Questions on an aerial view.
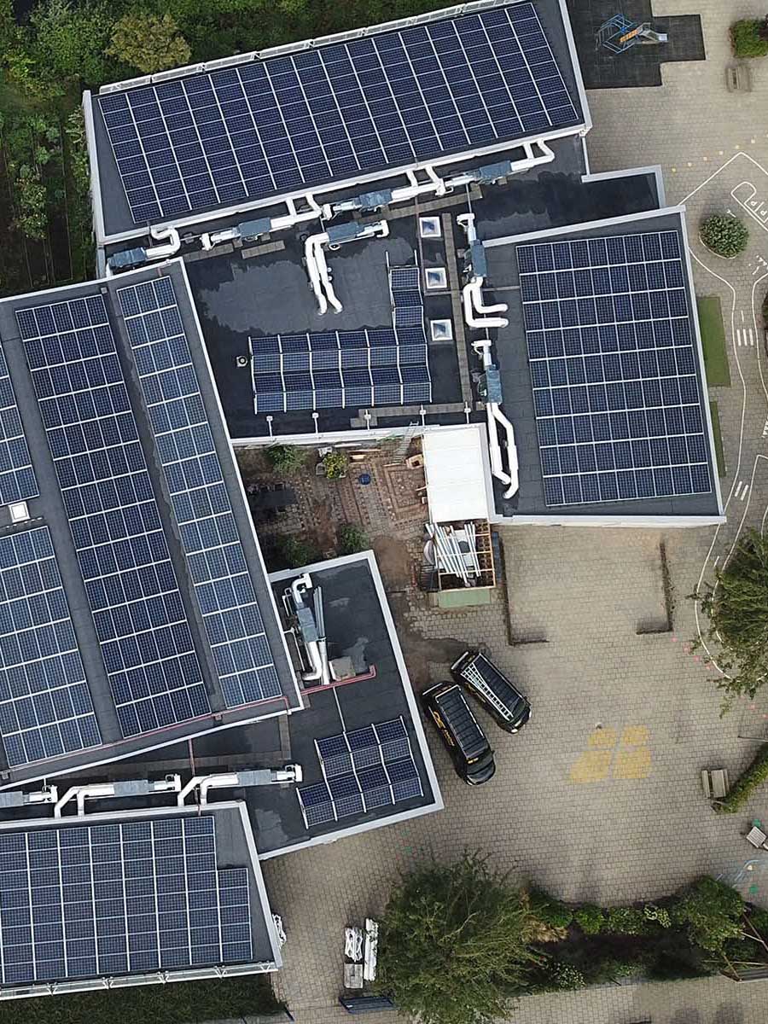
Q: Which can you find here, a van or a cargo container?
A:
van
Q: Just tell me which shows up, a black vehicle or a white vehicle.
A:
black vehicle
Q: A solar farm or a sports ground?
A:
solar farm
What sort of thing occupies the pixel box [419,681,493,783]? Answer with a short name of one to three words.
van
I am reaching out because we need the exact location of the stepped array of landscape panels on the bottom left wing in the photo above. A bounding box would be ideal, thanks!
[0,816,252,984]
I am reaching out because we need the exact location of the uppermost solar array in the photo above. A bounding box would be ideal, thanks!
[98,3,579,222]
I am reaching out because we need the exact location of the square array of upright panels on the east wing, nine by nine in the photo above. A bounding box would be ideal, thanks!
[517,230,711,506]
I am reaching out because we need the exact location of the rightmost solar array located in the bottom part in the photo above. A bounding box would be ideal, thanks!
[296,715,417,822]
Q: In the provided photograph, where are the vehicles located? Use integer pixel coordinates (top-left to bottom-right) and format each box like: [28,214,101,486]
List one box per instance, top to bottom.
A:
[449,649,530,733]
[419,681,493,783]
